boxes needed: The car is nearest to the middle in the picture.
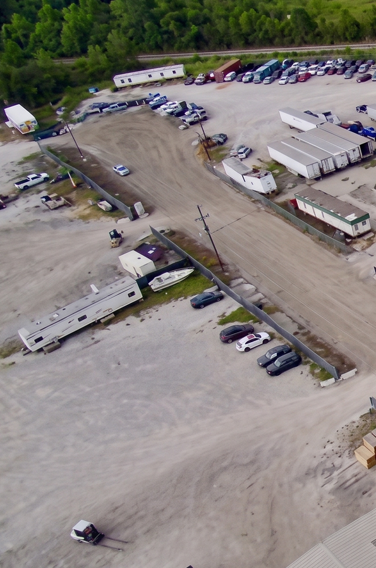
[190,289,224,308]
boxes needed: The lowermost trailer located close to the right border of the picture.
[293,187,371,240]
